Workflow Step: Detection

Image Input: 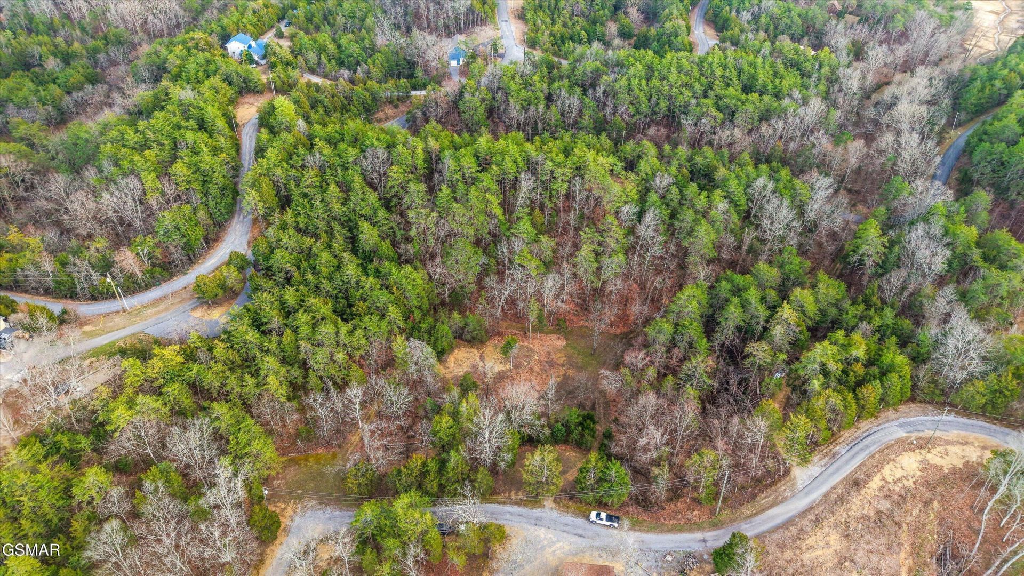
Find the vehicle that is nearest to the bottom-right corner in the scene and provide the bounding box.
[587,512,622,530]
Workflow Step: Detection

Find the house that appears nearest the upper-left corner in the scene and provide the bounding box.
[223,30,278,60]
